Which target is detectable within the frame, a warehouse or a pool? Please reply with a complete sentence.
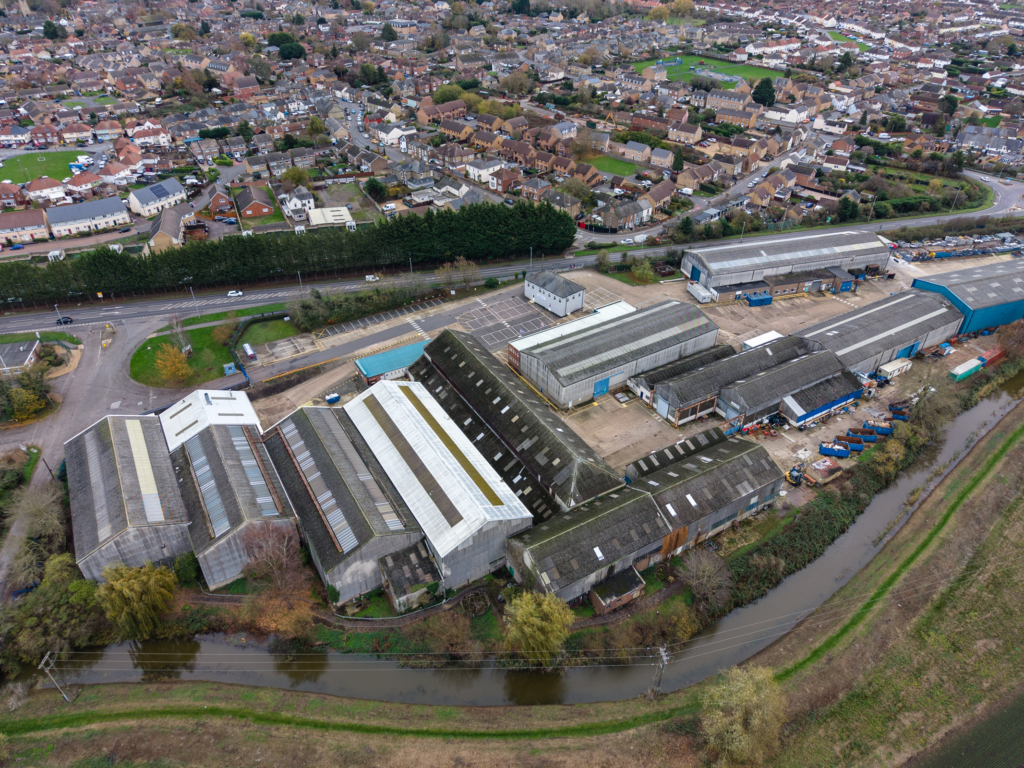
Looking from above, you can make out a warehouse.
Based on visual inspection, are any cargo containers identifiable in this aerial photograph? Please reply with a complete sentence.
Yes, looking at the shot, I can spot a cargo container.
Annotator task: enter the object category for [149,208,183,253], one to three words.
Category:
house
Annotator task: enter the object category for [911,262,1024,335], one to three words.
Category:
building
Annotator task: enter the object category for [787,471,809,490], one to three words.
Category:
work vehicle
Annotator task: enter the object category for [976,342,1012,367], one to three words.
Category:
shipping container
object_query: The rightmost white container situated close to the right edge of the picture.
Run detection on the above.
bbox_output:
[944,358,982,384]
